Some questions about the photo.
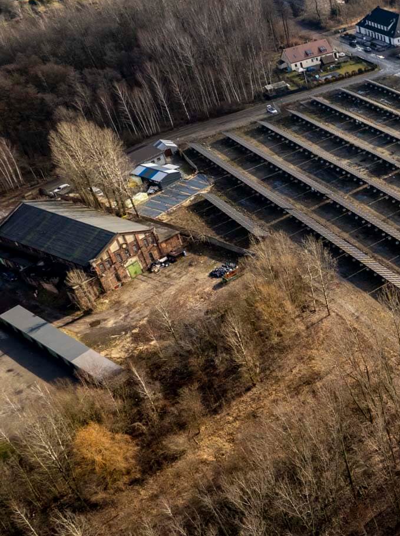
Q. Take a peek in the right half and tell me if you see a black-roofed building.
Yes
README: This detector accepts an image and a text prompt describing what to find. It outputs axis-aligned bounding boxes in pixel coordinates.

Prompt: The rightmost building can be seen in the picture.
[352,4,400,48]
